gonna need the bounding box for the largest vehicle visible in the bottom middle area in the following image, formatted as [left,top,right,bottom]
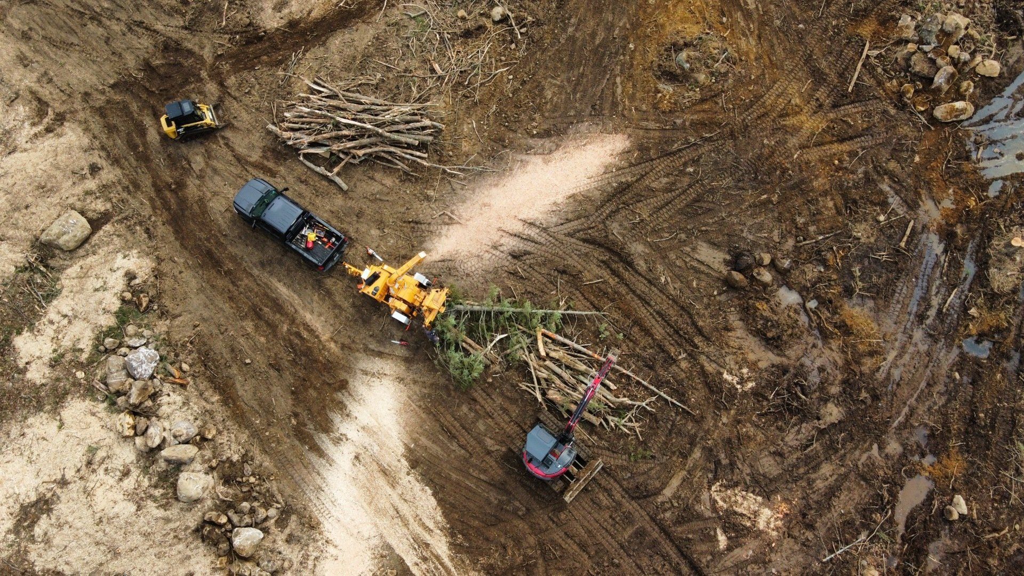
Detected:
[512,345,623,502]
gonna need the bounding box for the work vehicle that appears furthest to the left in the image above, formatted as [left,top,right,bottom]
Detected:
[161,100,233,144]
